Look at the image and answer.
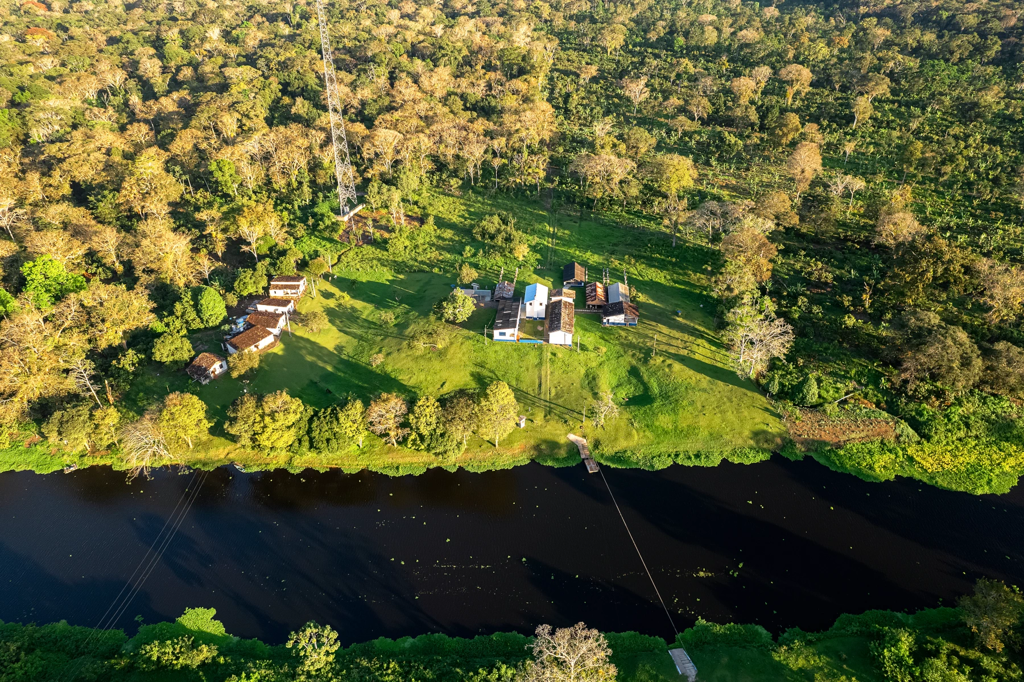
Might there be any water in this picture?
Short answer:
Yes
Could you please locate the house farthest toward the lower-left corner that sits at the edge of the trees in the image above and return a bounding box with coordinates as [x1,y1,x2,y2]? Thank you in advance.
[181,354,225,386]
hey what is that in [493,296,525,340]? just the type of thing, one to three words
house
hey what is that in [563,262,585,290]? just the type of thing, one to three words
house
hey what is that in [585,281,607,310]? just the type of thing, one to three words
shed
